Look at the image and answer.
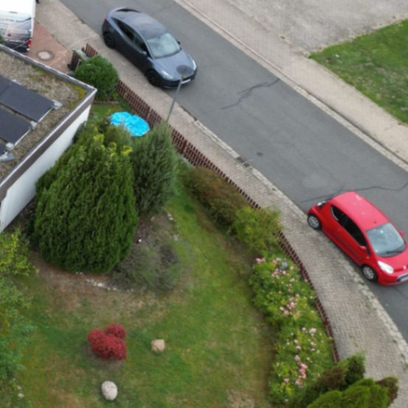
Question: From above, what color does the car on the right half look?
red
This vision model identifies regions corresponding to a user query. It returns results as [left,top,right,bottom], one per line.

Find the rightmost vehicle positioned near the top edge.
[101,10,202,93]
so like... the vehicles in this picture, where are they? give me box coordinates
[101,10,202,93]
[0,0,37,54]
[308,194,408,290]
